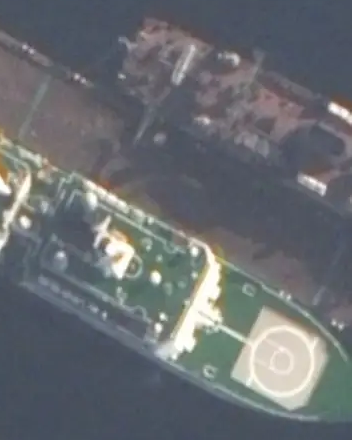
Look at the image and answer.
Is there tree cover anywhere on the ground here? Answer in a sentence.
No, the picture contains no tree cover.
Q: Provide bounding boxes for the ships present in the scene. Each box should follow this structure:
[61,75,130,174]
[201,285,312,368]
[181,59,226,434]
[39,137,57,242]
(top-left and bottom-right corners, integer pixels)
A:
[0,132,352,421]
[118,16,352,220]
